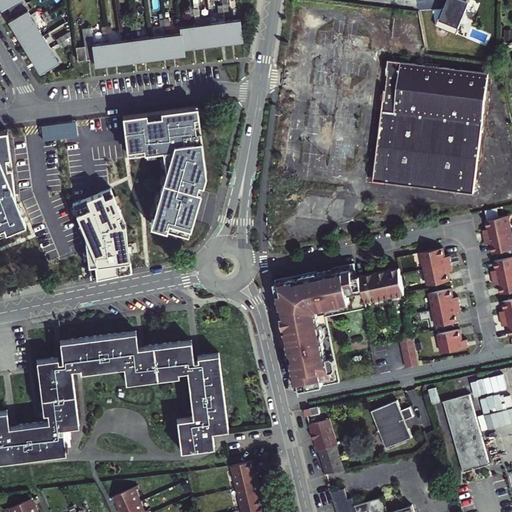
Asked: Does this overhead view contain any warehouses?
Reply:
Yes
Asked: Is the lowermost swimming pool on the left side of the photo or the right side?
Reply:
right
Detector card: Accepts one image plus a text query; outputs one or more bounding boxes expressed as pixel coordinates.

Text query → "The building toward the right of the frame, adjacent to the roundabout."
[276,270,347,390]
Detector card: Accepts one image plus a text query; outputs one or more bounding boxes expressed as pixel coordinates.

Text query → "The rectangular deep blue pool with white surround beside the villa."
[466,26,491,46]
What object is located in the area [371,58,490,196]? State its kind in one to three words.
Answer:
warehouse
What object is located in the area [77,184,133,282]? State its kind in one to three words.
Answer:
building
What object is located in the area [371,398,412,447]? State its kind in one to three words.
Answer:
house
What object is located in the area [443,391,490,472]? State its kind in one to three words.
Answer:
shed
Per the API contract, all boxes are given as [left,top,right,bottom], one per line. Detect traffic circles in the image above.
[196,238,257,297]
